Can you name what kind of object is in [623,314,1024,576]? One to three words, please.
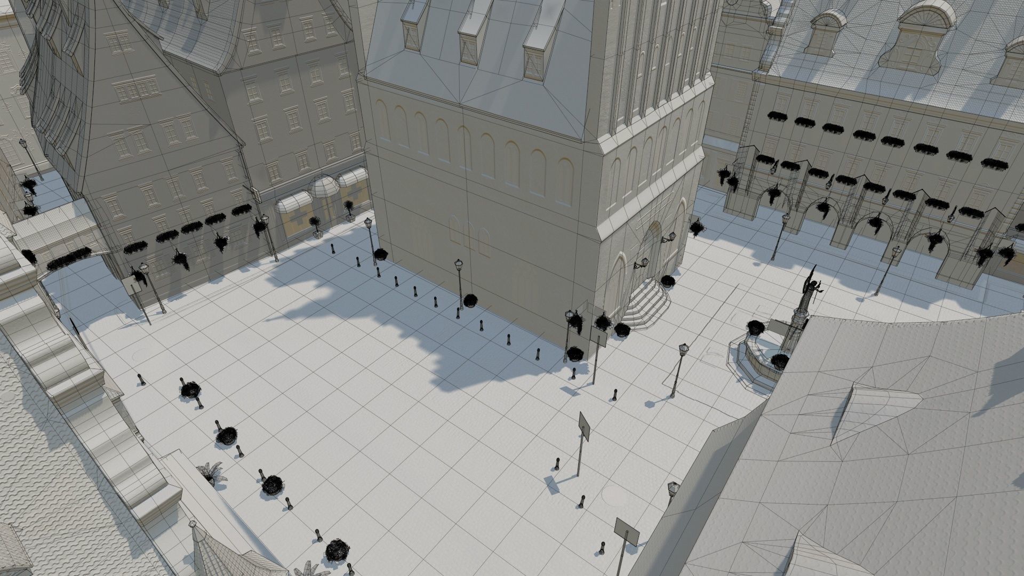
house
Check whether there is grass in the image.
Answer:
No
